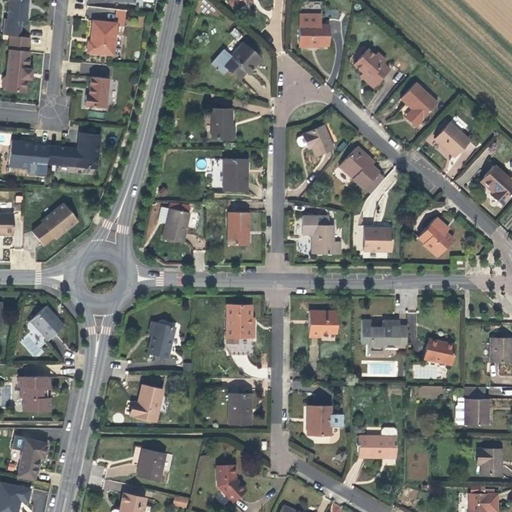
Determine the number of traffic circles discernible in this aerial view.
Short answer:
1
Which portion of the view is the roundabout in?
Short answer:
left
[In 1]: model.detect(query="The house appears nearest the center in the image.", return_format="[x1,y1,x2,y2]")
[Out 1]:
[228,212,251,246]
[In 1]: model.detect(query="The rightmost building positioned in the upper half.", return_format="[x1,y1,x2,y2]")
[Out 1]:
[482,166,512,208]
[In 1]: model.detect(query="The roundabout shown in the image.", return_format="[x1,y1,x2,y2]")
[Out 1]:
[66,242,136,312]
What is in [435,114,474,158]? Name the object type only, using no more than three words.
house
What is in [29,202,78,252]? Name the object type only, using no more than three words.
house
